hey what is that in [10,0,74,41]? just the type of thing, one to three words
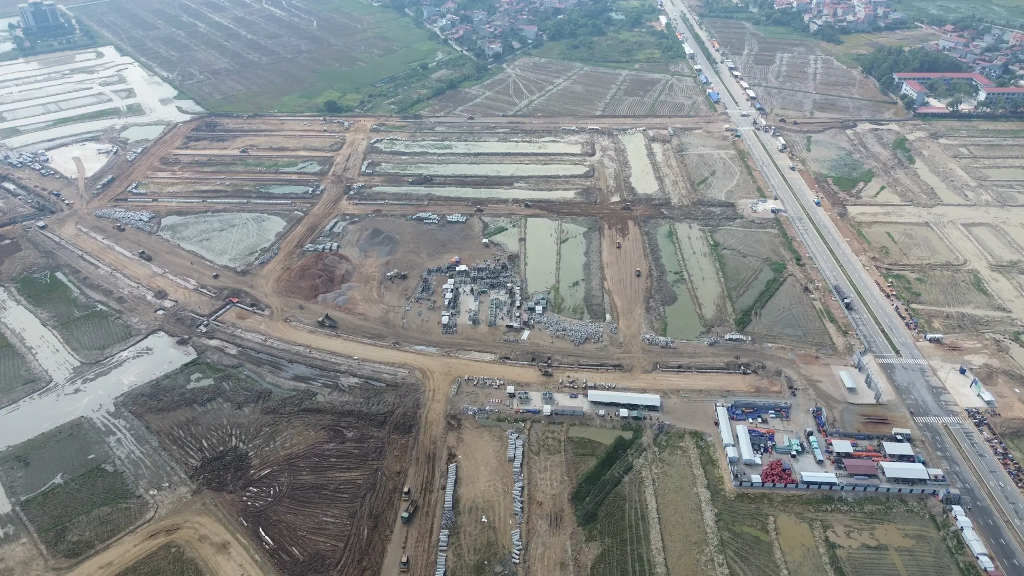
building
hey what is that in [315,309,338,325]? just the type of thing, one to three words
vehicle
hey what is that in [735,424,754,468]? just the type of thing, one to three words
shed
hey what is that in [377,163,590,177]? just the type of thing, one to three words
pond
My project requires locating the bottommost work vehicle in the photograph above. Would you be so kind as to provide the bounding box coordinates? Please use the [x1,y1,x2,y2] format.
[398,551,410,573]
